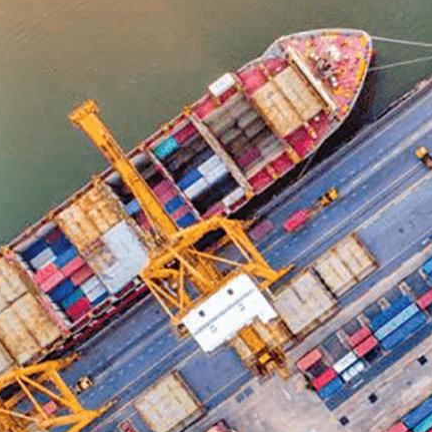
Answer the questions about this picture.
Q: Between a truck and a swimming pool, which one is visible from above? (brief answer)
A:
truck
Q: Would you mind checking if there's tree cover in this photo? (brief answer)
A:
No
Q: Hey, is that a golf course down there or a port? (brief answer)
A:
port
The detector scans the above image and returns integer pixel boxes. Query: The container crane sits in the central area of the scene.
[66,102,293,386]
